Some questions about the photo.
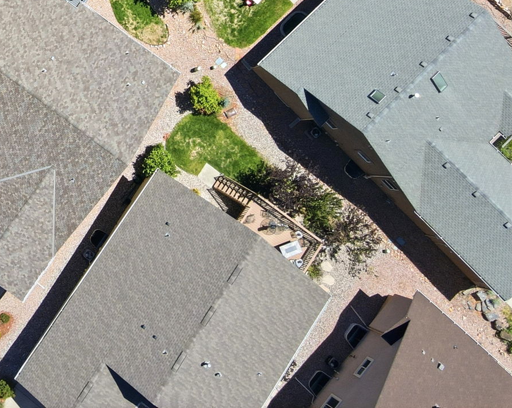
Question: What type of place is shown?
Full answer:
This image shows a residential area.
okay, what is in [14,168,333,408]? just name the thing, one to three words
house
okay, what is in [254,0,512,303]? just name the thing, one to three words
house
